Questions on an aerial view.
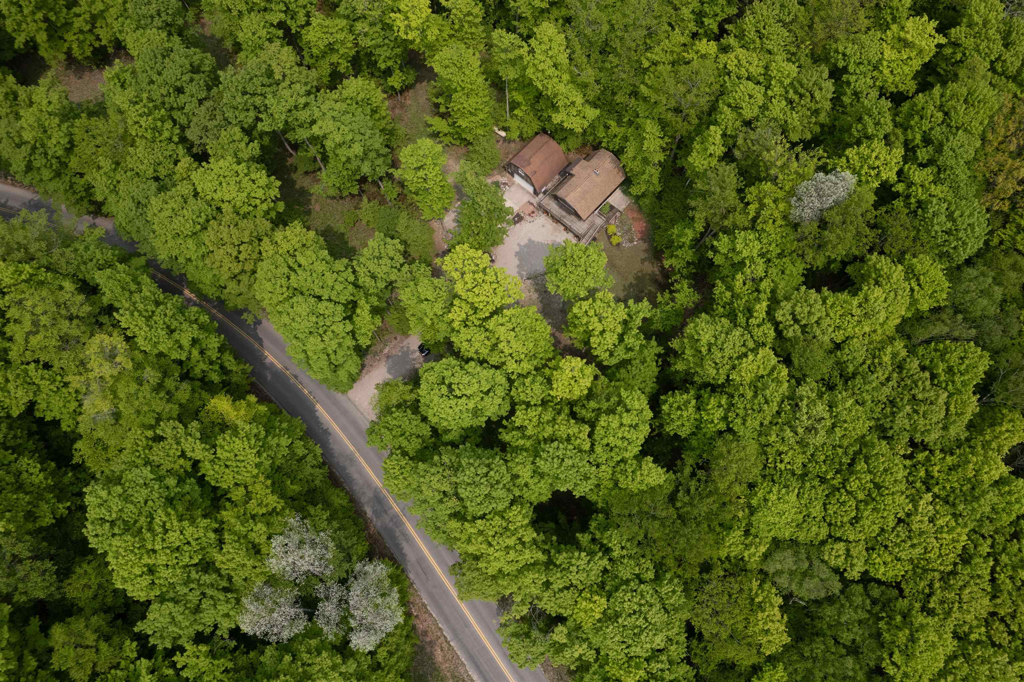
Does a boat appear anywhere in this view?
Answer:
No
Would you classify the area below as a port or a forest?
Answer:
forest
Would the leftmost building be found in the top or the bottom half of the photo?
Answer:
top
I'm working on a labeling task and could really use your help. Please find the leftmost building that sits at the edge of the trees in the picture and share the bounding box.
[505,132,569,198]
